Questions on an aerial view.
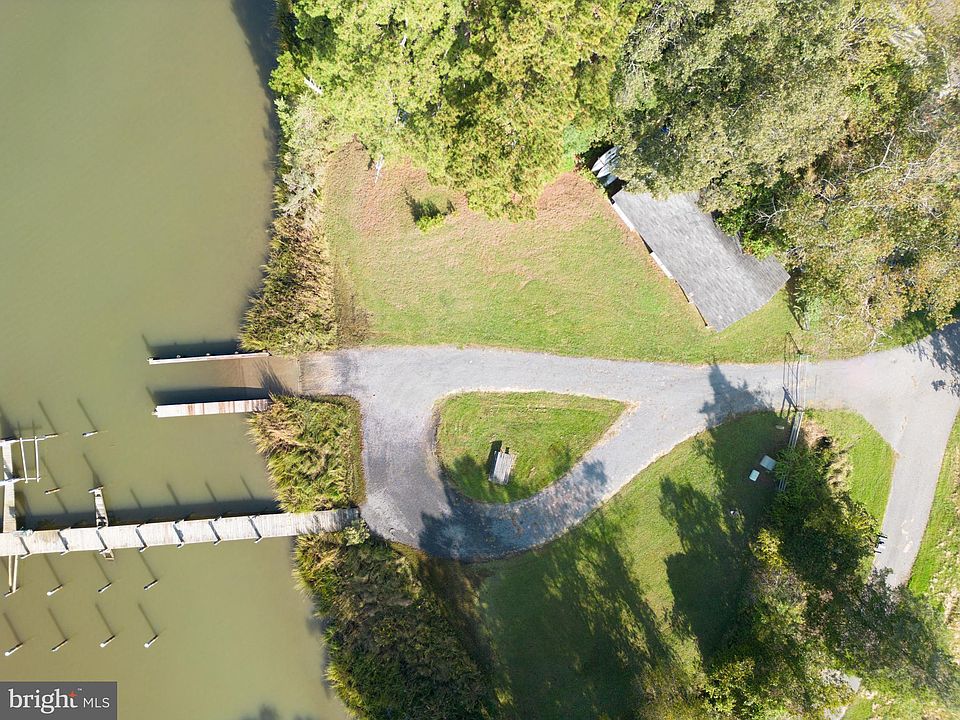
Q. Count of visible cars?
0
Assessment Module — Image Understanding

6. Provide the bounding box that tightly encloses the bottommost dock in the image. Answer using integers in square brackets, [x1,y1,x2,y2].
[0,505,362,563]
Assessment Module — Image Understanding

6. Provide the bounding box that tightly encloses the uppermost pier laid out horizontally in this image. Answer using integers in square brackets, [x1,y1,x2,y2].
[147,398,273,418]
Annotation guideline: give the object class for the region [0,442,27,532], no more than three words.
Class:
pier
